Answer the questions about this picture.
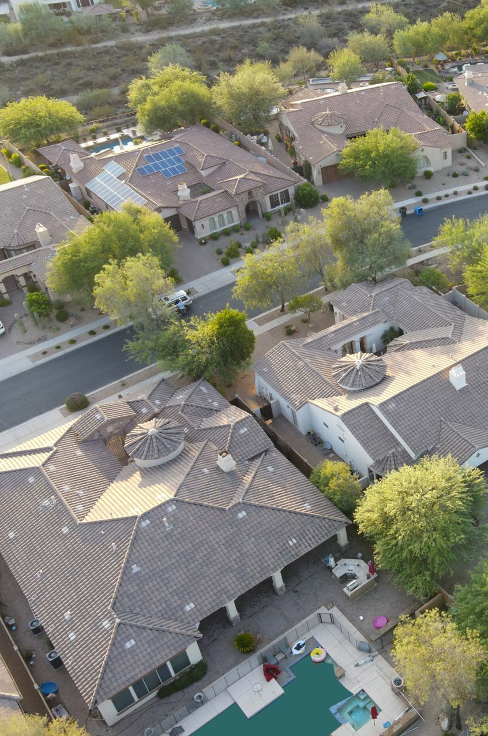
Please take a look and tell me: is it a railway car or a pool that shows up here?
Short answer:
pool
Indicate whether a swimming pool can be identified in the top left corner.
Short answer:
Yes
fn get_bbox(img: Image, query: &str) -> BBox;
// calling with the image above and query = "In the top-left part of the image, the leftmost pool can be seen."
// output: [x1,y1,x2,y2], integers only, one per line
[88,126,155,154]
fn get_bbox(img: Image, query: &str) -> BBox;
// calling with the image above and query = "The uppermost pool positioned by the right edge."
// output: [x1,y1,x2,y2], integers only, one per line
[443,58,488,73]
